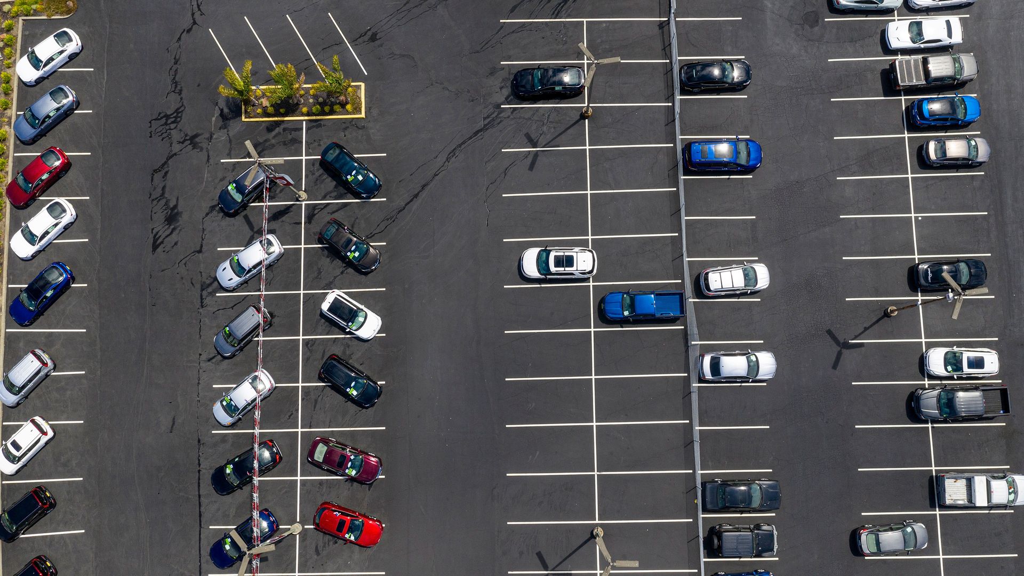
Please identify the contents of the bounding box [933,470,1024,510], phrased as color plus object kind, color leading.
white truck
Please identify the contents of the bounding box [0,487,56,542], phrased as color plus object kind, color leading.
black car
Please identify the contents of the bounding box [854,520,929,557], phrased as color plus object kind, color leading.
gray car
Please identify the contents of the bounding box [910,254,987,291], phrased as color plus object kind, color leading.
black car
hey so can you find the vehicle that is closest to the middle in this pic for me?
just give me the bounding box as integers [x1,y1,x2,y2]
[521,245,597,281]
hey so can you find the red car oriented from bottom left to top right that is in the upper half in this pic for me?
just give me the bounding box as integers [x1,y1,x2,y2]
[6,149,71,208]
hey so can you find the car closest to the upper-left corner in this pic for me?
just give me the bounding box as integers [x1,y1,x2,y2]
[17,30,81,88]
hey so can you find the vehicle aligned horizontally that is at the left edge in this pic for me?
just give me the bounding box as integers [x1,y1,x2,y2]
[13,556,57,576]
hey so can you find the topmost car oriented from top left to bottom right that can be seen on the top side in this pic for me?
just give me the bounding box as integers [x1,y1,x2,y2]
[320,141,381,199]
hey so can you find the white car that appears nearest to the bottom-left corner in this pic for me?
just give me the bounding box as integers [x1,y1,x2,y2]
[0,419,56,474]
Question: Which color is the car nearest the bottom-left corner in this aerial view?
black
